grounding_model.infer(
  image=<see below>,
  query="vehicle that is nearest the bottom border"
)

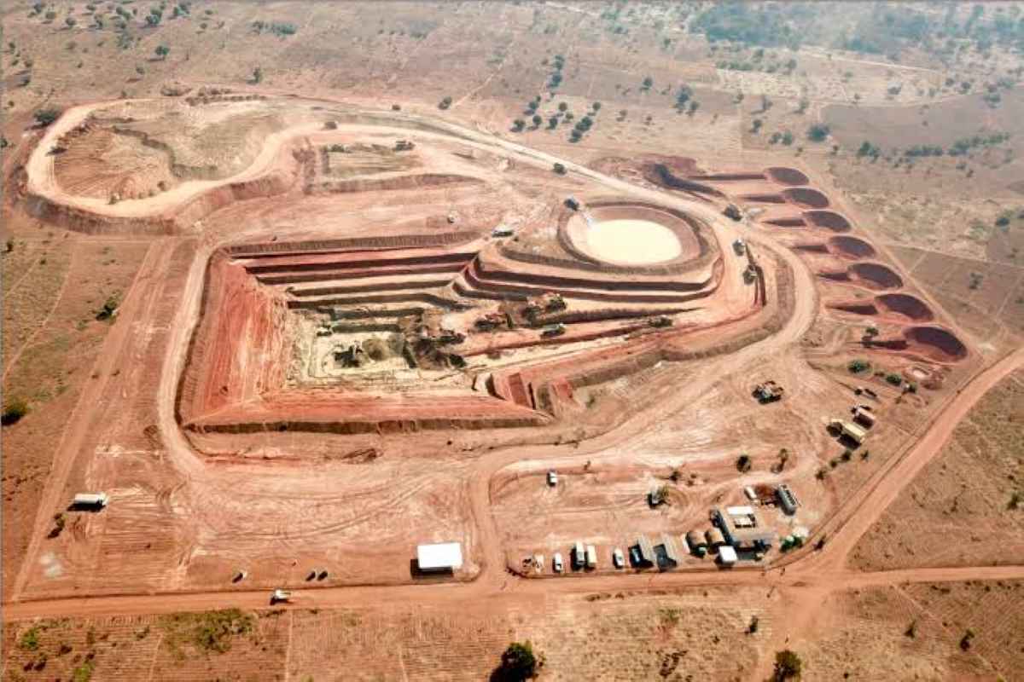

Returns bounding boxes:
[268,592,293,604]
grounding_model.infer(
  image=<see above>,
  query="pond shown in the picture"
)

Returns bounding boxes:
[586,219,682,264]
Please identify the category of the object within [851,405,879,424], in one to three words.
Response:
vehicle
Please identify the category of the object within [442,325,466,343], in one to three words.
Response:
work vehicle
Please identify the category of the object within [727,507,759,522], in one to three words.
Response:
building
